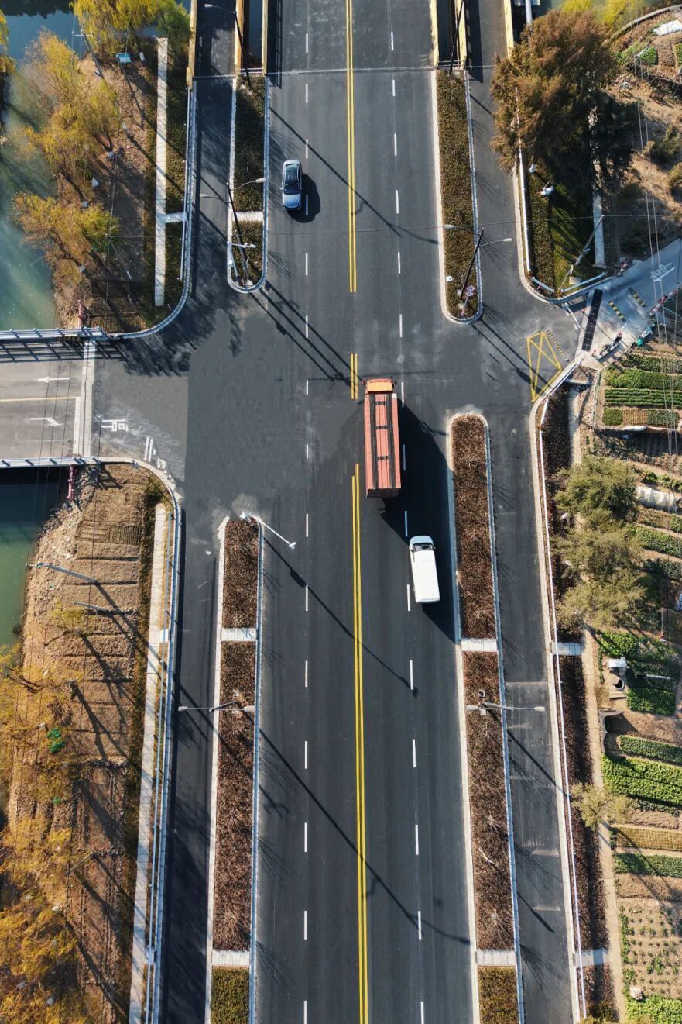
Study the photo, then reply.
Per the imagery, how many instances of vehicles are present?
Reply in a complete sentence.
The number of vehicles here is 3.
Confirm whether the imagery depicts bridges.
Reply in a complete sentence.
Yes, the frame does contain a bridge.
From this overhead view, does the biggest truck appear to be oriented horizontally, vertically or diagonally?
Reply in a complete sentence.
In this picture, the biggest truck lies vertically.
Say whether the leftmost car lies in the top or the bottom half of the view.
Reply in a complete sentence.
Seen from above, the leftmost car lies in the top half of the view.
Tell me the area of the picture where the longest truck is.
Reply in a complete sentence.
You can find the longest truck in the center area of the picture.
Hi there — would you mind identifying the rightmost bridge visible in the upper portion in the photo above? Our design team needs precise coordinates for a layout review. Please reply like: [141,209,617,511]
[454,0,516,77]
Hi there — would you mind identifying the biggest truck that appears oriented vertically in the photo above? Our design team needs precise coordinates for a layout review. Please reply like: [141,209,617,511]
[362,377,401,501]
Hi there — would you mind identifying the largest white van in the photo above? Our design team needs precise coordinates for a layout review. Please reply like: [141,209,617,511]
[409,538,439,606]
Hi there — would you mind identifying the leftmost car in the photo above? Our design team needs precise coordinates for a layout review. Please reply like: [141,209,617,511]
[279,155,304,208]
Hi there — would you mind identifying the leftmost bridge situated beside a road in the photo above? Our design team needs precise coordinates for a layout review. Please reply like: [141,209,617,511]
[0,329,102,469]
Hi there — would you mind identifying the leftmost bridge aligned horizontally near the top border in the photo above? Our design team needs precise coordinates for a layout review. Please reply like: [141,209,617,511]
[261,0,438,79]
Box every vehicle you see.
[279,155,304,208]
[409,538,439,606]
[362,377,401,501]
